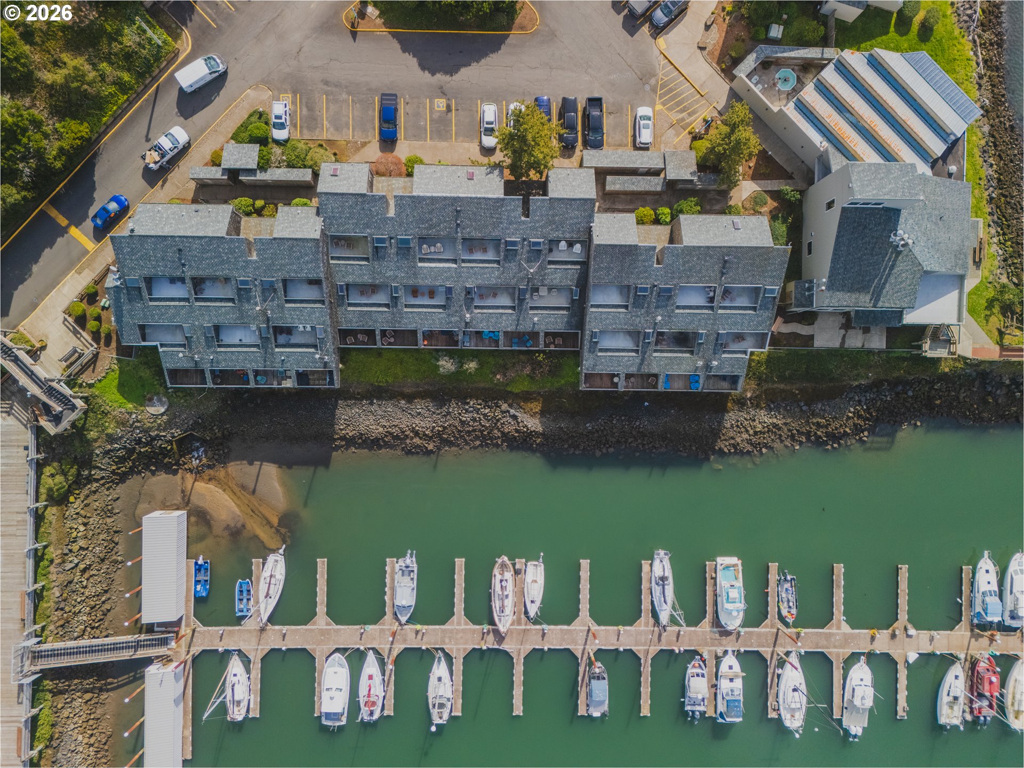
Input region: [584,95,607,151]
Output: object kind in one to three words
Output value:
truck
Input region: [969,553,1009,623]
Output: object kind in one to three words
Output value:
boat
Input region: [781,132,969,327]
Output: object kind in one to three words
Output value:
building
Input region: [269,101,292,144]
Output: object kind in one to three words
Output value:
car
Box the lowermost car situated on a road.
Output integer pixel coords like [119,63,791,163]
[89,192,132,231]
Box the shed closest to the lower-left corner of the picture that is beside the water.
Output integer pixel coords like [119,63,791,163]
[144,661,188,768]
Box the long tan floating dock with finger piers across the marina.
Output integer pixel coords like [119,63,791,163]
[175,557,1024,759]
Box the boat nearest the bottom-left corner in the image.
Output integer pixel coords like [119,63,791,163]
[204,650,251,725]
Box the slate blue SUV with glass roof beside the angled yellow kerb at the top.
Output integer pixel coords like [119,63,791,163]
[653,0,696,28]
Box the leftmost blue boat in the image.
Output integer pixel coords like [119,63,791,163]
[194,550,211,598]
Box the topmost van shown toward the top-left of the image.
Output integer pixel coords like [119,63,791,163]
[169,55,228,95]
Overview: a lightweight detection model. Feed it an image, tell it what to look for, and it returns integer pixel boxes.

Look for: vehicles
[653,0,696,28]
[584,95,607,151]
[377,92,400,144]
[534,94,552,119]
[89,192,132,231]
[140,126,193,171]
[634,106,656,150]
[169,55,228,95]
[478,104,499,151]
[269,101,292,144]
[560,95,581,150]
[622,0,656,20]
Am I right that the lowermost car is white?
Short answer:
No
